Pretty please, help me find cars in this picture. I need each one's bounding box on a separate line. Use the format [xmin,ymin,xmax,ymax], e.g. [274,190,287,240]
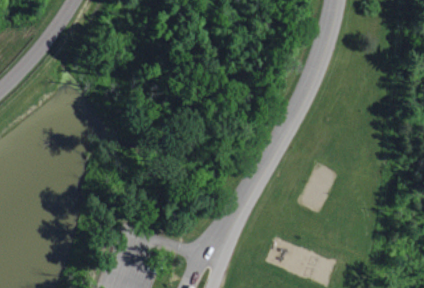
[190,272,198,286]
[204,247,214,260]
